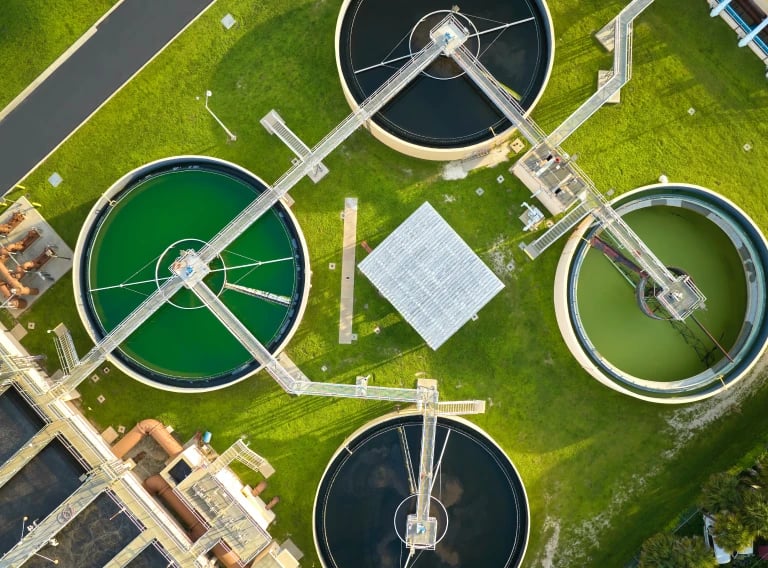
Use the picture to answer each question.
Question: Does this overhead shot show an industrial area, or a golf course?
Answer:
industrial area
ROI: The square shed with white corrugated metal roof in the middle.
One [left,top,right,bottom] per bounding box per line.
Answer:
[358,202,504,349]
